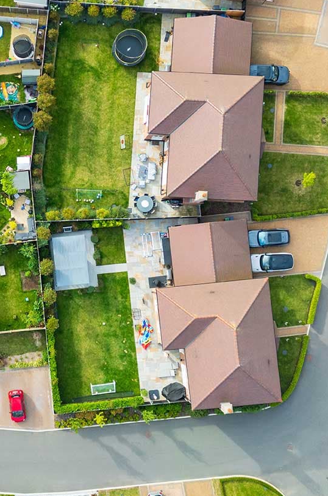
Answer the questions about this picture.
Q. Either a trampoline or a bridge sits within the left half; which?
trampoline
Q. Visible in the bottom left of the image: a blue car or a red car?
red car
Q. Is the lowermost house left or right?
right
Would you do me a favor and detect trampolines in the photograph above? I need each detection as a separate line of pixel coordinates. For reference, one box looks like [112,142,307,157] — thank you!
[13,104,34,127]
[114,27,149,64]
[13,32,33,56]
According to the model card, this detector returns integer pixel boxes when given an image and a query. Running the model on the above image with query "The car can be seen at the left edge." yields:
[8,389,26,422]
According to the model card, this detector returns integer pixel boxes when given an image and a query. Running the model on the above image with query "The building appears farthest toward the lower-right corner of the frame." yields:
[154,277,282,410]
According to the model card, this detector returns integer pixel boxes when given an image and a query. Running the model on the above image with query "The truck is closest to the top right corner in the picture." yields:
[250,62,290,83]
